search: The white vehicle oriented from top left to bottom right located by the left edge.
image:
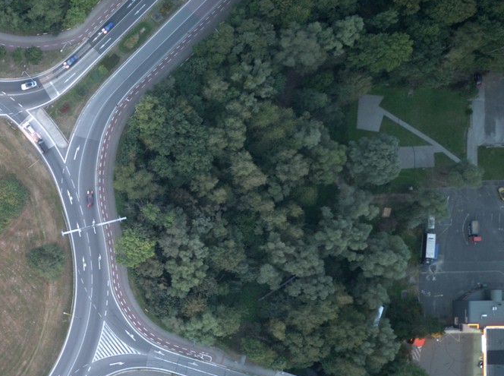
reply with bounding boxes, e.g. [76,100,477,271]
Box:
[23,120,36,135]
